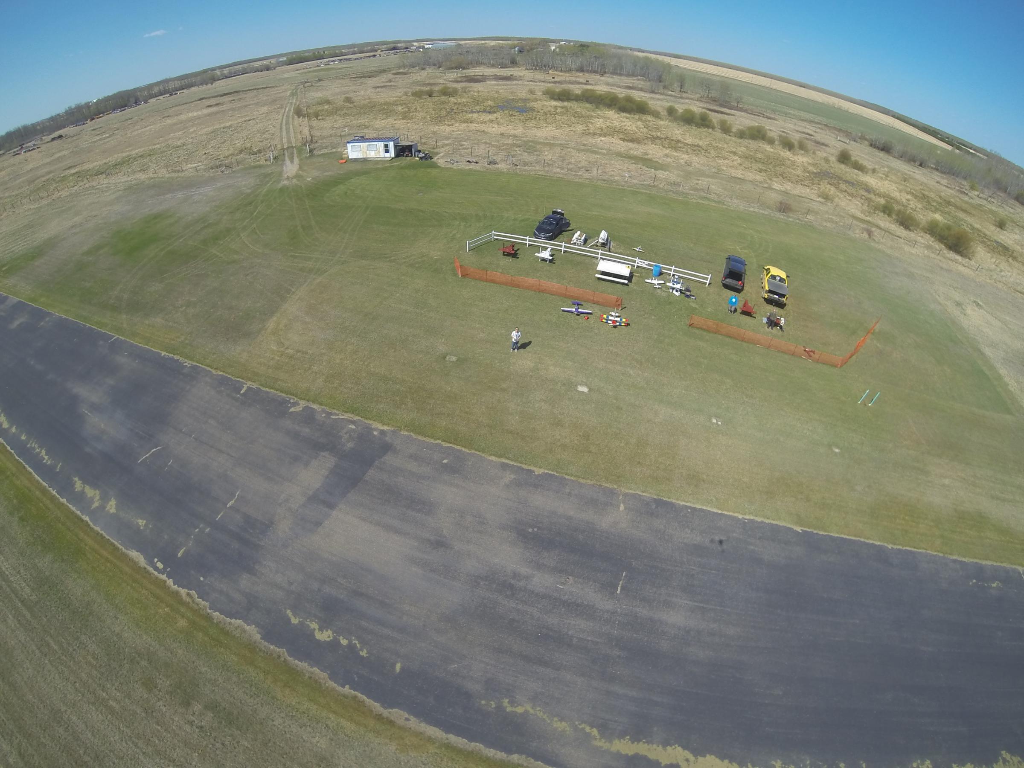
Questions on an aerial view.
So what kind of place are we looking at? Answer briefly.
airport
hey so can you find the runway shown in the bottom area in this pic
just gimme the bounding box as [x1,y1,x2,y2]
[0,294,1024,768]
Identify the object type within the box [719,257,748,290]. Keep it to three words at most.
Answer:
vehicle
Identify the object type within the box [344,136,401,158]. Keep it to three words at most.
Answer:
shed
